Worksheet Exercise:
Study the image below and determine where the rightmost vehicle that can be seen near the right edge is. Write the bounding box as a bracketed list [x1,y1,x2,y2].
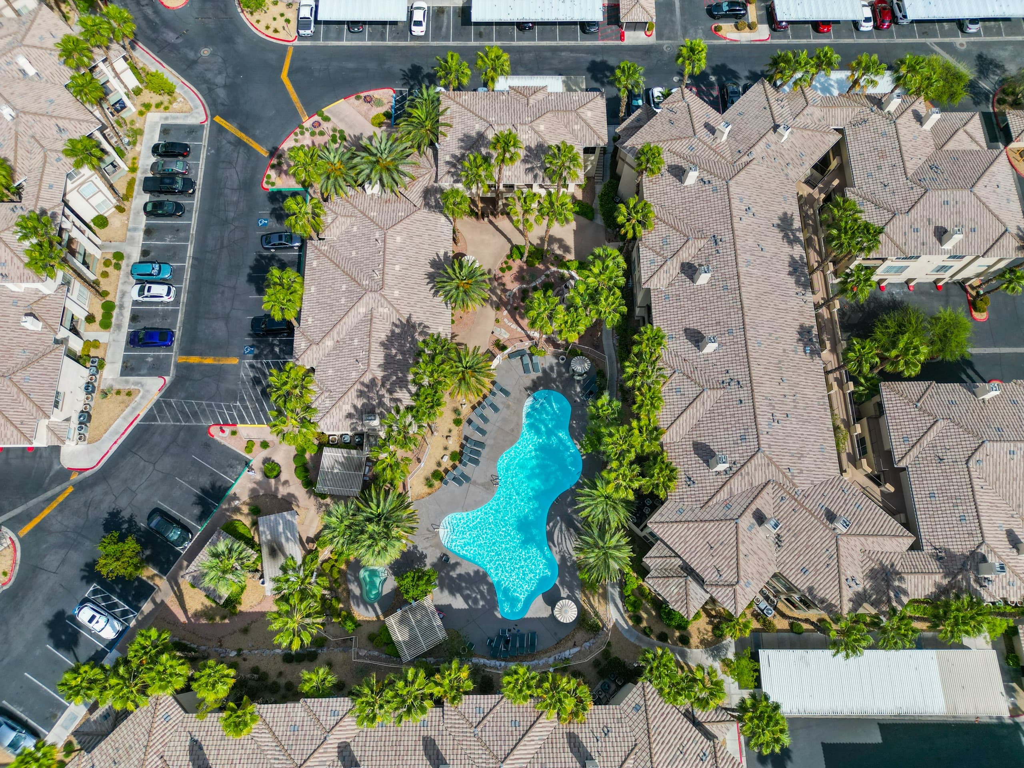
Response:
[961,19,980,31]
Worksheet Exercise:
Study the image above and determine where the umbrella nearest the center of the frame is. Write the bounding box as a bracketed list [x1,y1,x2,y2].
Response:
[571,355,591,374]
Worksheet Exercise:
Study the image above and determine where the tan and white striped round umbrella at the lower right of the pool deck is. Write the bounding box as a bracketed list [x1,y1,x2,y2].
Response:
[555,599,578,623]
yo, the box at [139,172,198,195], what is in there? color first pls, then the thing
black truck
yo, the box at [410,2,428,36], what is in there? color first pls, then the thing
white car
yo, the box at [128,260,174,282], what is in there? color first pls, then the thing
blue car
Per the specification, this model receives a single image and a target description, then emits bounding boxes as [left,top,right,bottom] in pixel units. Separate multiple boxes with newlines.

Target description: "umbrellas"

[571,355,591,374]
[462,254,479,270]
[555,599,578,623]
